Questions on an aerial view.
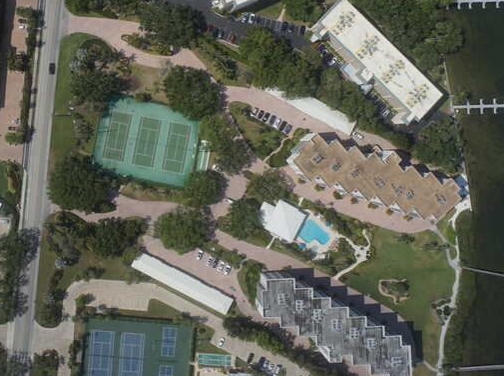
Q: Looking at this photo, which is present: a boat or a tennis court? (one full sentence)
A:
The image shows a tennis court.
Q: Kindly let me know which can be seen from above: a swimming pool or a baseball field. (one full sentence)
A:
There is a swimming pool in the scene.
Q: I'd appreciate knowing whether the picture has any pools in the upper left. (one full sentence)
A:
No, the scene shows no pool in the upper left.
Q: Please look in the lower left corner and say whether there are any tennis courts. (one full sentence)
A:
Yes, a tennis court appears in the lower left corner.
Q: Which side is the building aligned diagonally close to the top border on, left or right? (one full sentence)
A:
The building aligned diagonally close to the top border appears in the right half of the scene.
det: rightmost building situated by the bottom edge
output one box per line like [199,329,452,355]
[257,271,413,376]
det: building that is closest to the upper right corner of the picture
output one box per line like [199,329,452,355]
[306,0,442,121]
